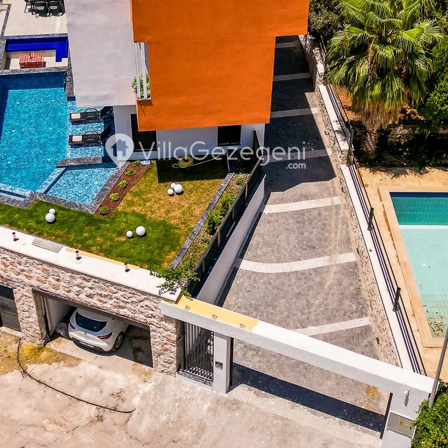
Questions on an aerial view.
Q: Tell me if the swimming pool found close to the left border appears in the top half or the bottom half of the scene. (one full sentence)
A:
It is in the top half that the swimming pool found close to the left border appears.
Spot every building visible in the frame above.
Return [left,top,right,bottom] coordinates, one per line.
[63,0,309,165]
[30,232,198,375]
